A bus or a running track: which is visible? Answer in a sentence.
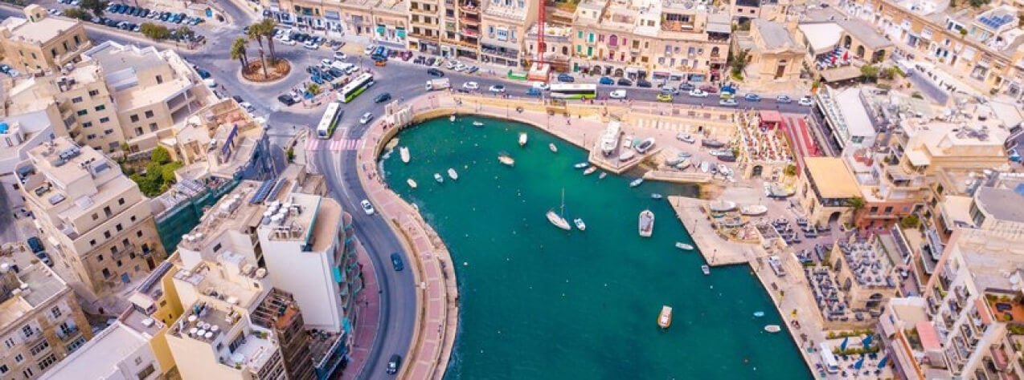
Looking from above, you can make out a bus.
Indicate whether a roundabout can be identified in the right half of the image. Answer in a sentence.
No, there is no roundabout in the right half of the image.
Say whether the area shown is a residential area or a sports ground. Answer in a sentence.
This looks like a residential area.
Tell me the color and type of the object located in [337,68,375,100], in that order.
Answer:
white bus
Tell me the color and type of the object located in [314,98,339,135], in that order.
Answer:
white bus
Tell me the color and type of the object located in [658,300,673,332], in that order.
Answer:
white boat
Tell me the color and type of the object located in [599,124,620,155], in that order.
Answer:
white boat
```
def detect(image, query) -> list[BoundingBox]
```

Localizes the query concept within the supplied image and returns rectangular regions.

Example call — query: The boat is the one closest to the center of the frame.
[495,153,515,165]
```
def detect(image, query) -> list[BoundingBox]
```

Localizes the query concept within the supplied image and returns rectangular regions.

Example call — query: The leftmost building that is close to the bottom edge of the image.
[0,239,90,379]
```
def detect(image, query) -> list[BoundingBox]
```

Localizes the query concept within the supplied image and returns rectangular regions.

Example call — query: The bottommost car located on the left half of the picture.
[386,352,401,376]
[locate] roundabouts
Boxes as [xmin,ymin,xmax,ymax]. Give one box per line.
[237,59,294,85]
